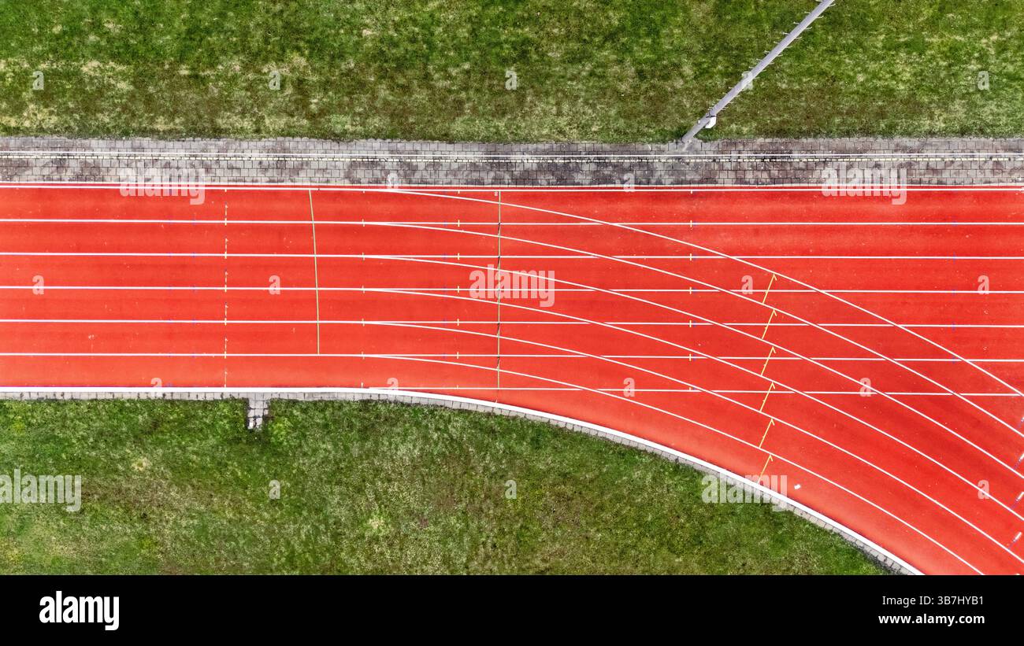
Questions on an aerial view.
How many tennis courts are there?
none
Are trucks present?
No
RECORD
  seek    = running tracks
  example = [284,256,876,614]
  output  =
[0,182,1024,639]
